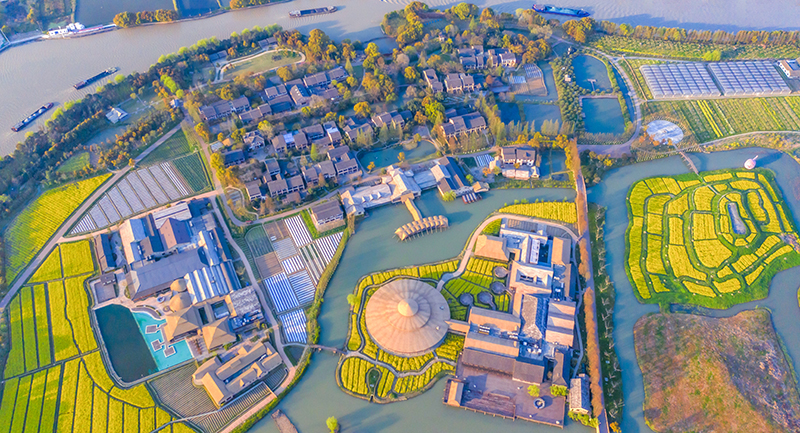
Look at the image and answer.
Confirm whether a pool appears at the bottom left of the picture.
Yes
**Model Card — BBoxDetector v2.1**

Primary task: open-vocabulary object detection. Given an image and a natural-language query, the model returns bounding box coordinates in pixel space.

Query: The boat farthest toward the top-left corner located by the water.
[45,22,87,38]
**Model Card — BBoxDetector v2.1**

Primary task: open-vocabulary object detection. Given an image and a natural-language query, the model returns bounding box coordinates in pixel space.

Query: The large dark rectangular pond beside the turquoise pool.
[94,300,159,388]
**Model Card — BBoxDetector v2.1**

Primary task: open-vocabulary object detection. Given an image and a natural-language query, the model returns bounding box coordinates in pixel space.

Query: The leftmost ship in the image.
[8,102,54,131]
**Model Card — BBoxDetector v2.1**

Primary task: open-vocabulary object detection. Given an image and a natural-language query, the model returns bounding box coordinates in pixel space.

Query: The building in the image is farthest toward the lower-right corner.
[568,379,588,414]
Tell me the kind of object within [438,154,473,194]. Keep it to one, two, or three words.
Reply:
barn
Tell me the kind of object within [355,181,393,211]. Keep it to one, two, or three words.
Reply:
building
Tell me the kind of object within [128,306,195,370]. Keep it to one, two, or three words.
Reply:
swimming pool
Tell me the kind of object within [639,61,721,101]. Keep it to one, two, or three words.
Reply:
greenhouse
